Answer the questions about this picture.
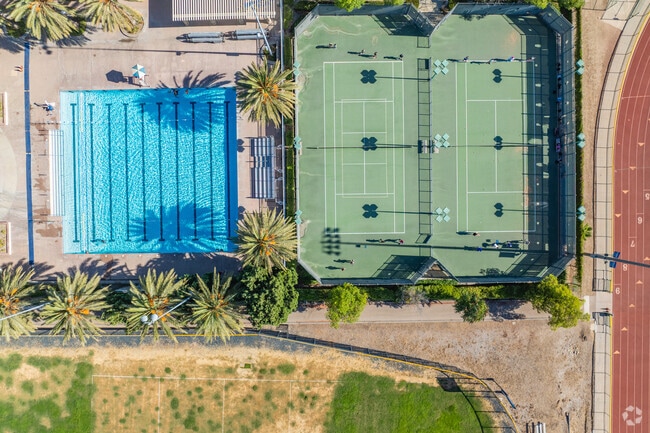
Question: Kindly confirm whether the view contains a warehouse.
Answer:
No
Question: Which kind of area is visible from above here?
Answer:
sports ground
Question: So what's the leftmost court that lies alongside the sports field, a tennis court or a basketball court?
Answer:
tennis court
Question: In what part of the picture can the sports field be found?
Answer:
bottom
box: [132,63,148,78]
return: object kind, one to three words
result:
umbrella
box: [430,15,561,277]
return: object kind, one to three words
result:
tennis court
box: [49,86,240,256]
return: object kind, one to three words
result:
swimming pool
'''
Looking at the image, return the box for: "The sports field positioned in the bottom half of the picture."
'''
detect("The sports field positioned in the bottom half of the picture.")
[0,330,513,433]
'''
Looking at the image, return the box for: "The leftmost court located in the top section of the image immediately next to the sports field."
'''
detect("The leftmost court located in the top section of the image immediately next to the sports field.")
[298,15,432,279]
